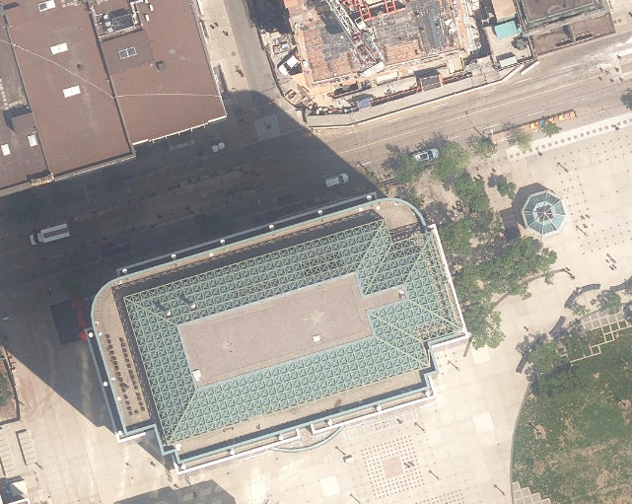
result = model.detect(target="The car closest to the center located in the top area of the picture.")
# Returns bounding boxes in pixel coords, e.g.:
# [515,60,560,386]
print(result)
[325,173,350,187]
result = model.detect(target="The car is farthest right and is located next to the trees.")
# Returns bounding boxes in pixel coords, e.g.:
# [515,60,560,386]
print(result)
[414,149,439,162]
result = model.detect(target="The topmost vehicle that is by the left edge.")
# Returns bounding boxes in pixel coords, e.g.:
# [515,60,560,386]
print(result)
[30,222,69,244]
